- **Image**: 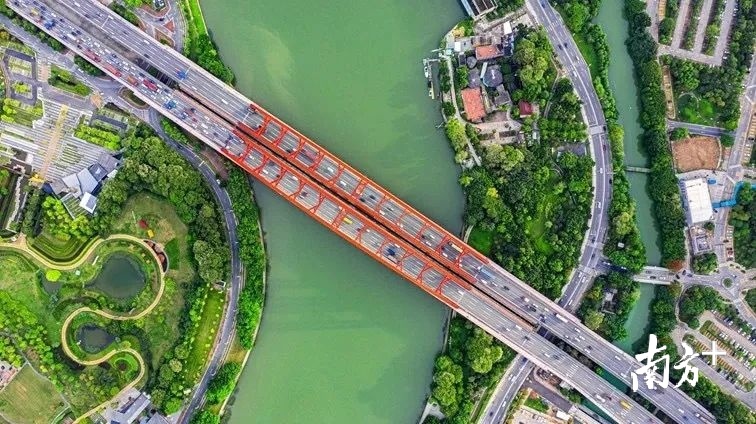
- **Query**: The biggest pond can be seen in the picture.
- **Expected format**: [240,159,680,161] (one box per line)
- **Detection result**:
[88,250,145,298]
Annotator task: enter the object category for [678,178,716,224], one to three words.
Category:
building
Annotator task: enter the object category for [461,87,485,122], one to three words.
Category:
building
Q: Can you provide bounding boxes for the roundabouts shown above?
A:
[712,266,745,299]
